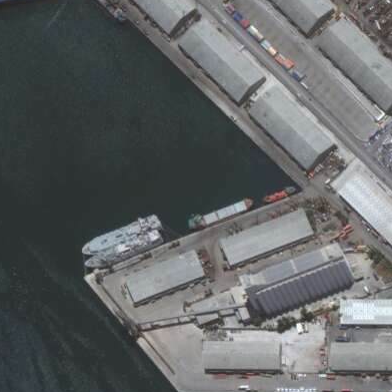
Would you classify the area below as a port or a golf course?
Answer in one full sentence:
This image shows a port.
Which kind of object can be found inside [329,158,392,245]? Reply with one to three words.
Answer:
building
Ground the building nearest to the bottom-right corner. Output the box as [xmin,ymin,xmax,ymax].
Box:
[327,341,392,373]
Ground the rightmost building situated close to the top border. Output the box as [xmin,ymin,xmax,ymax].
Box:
[313,18,392,115]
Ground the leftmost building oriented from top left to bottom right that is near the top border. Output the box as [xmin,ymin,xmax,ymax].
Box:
[177,19,268,108]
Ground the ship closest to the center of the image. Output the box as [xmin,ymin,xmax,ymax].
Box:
[189,197,253,231]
